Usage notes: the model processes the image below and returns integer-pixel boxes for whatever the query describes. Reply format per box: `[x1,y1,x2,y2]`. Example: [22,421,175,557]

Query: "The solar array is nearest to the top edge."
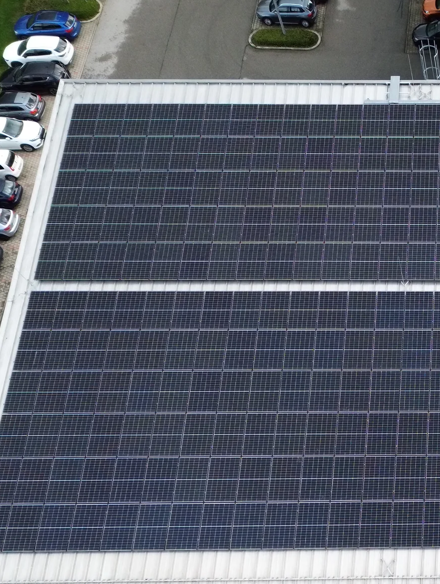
[34,103,440,281]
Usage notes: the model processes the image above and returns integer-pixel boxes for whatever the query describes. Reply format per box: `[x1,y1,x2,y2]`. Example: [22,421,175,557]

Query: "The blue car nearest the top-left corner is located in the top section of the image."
[12,2,85,39]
